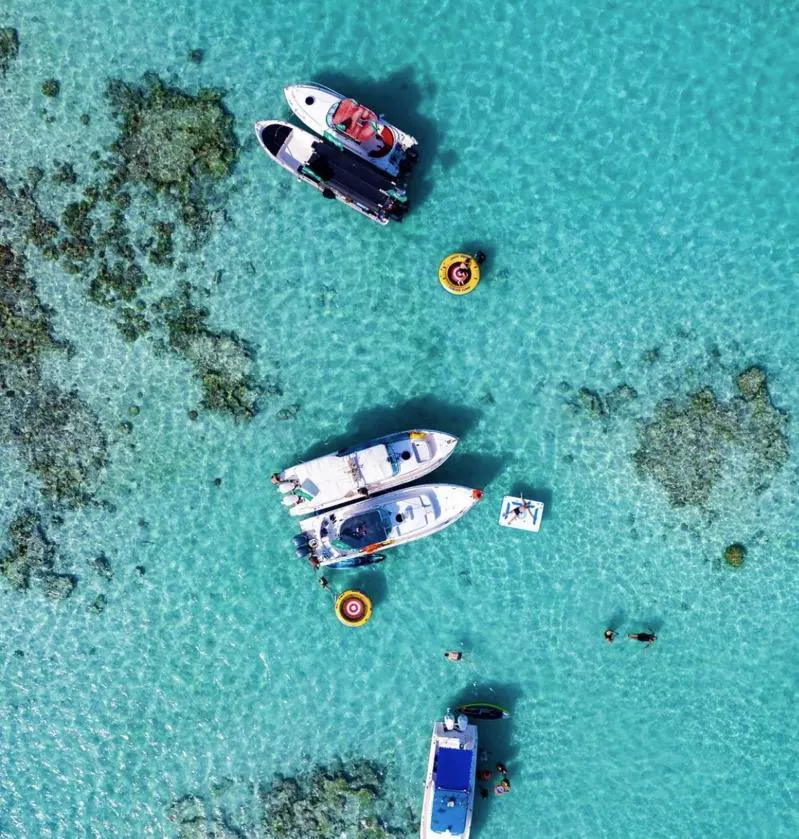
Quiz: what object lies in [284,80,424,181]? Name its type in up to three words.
boat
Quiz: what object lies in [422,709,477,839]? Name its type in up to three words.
boat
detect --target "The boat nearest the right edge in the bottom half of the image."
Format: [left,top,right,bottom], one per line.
[455,703,511,719]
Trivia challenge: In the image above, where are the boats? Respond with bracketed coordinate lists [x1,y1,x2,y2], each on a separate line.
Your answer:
[422,709,477,839]
[455,703,511,719]
[270,428,461,515]
[328,554,385,570]
[254,118,411,226]
[284,80,424,181]
[293,484,483,567]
